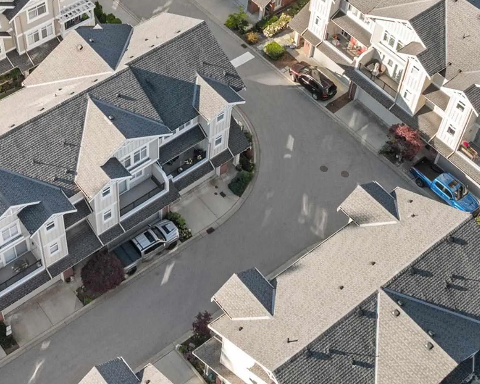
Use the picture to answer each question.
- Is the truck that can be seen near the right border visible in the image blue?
Yes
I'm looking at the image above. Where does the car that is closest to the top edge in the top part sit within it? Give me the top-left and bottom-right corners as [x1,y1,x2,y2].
[290,65,340,100]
